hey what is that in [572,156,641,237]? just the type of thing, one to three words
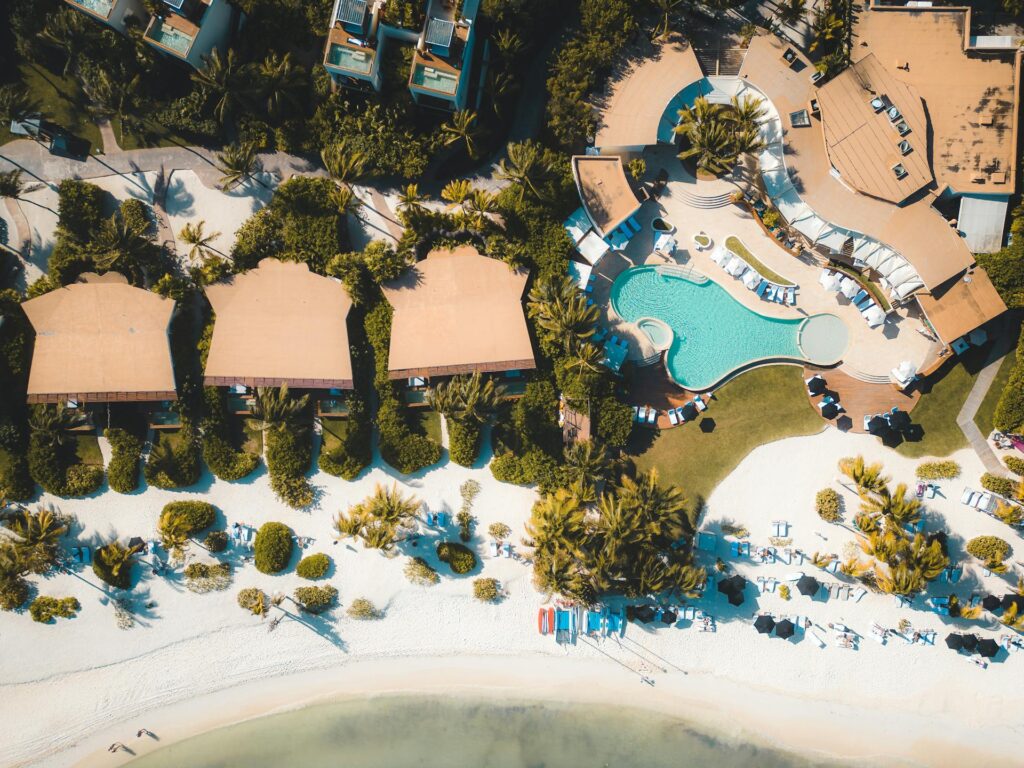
building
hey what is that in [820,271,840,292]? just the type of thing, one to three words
umbrella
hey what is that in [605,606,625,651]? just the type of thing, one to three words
boat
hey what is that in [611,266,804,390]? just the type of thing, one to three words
swimming pool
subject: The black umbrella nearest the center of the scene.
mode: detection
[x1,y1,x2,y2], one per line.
[681,401,699,420]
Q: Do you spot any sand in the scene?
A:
Yes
